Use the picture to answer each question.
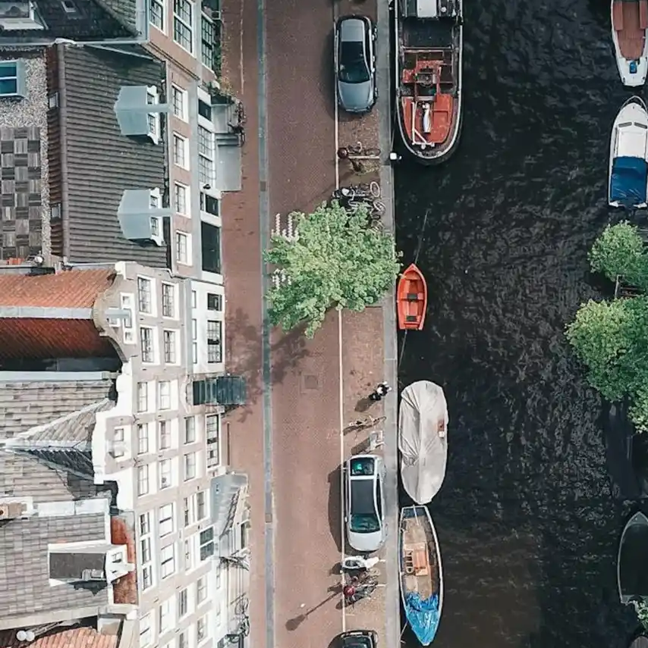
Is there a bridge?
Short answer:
No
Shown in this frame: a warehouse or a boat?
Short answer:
boat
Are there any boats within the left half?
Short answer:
No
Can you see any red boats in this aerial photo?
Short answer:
Yes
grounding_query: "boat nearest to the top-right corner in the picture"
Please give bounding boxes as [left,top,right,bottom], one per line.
[611,0,648,90]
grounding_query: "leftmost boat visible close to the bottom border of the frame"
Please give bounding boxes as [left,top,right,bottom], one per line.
[399,502,445,648]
